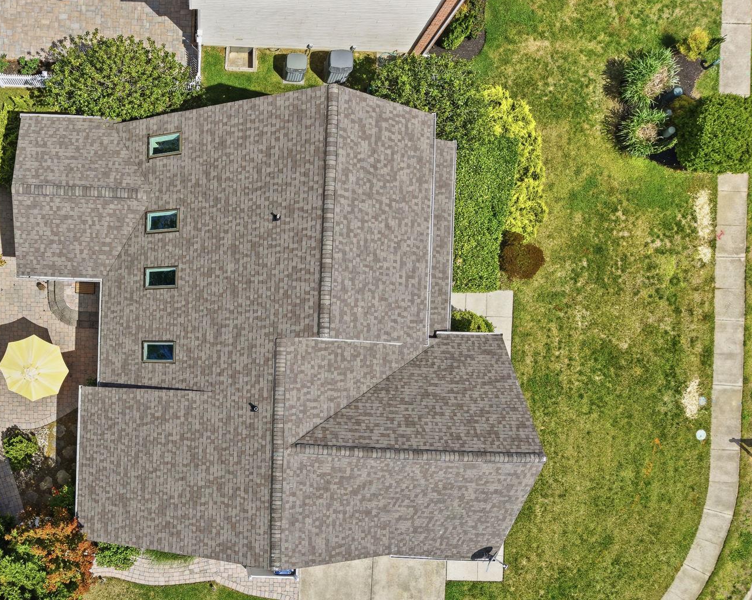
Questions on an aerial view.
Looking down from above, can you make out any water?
No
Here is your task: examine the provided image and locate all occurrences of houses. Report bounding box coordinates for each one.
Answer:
[12,85,545,587]
[187,0,474,56]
